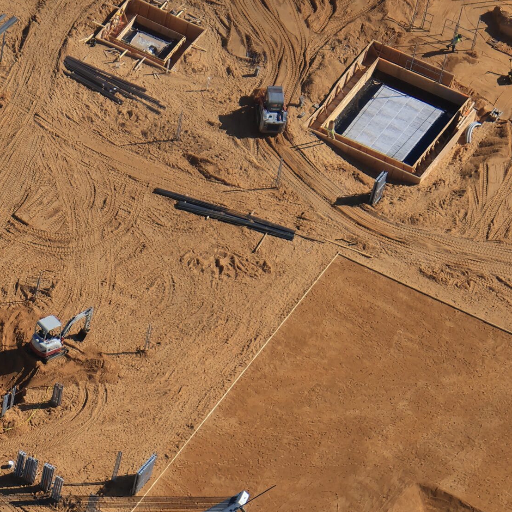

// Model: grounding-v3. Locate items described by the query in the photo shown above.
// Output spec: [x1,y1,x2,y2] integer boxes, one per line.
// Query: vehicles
[25,304,96,372]
[255,80,291,133]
